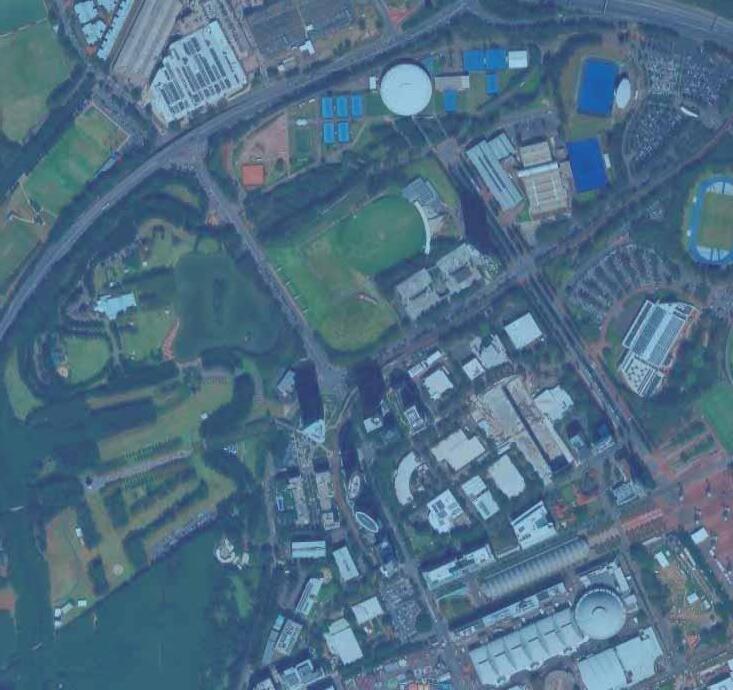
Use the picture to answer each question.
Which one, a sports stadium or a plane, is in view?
sports stadium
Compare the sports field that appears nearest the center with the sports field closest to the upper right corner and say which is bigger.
the sports field that appears nearest the center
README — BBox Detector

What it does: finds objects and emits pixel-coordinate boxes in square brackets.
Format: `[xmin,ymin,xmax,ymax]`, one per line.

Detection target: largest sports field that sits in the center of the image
[264,196,428,352]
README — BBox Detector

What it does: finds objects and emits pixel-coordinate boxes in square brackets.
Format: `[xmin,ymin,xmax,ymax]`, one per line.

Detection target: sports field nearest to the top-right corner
[577,56,621,117]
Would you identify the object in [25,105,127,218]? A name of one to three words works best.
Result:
sports field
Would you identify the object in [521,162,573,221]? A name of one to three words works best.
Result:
building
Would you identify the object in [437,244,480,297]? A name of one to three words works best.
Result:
building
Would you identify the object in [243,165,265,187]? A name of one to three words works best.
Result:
sports court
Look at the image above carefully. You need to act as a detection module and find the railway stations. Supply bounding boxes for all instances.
[467,527,593,602]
